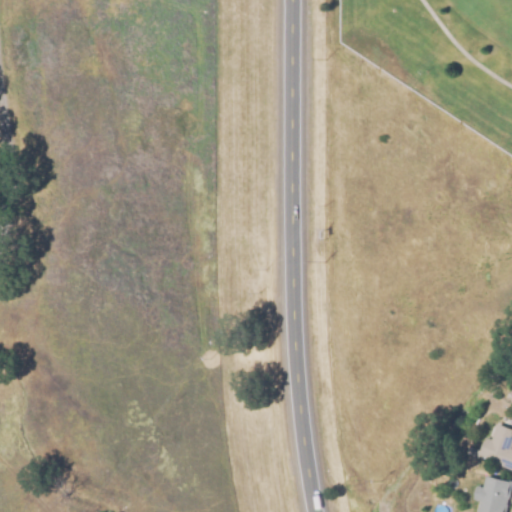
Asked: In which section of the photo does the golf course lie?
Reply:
top right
